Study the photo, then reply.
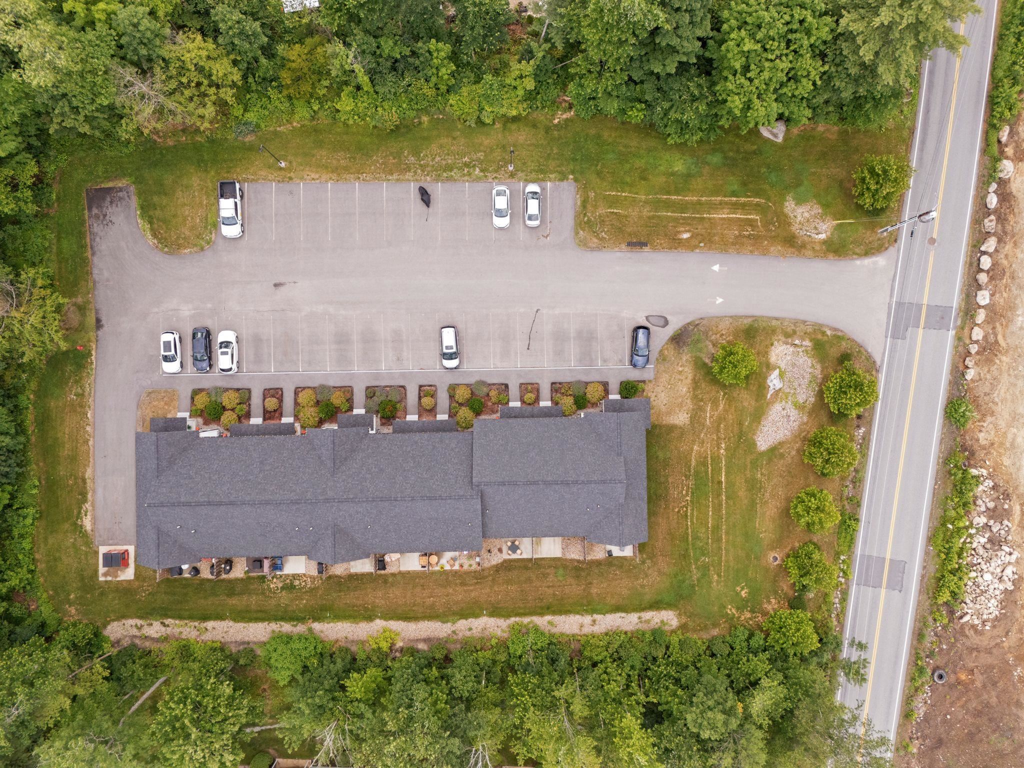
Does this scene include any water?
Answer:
No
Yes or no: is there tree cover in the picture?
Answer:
Yes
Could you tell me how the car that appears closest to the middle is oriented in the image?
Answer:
from top to bottom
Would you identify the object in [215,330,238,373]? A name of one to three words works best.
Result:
car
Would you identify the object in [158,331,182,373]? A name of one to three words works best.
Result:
car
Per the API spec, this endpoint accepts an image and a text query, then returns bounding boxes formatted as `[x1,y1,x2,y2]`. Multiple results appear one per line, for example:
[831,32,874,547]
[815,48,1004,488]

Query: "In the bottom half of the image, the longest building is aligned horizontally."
[136,398,653,568]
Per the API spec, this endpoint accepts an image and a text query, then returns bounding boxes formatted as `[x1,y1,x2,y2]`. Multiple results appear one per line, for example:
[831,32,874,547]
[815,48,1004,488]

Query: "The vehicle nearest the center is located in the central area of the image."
[439,325,461,369]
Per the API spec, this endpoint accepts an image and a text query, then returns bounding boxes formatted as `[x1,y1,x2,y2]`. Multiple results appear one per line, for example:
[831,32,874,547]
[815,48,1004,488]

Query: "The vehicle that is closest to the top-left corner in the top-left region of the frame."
[218,180,243,237]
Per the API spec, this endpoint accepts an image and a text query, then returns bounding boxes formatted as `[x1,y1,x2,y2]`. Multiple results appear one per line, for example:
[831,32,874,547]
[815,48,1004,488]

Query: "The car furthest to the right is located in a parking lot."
[631,324,652,368]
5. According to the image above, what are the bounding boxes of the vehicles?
[189,327,212,373]
[158,331,182,373]
[215,330,238,373]
[439,325,461,369]
[523,182,544,226]
[218,180,243,237]
[631,324,652,368]
[491,184,511,228]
